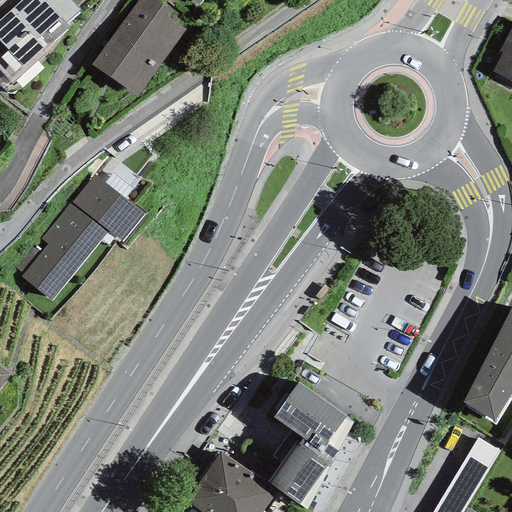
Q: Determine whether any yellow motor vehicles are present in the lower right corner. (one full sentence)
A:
Yes, looking in the lower right corner, one can make out a yellow motor vehicle.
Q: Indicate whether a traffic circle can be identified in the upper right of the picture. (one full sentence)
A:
Yes, the scene does show a traffic circle in the upper right of the picture.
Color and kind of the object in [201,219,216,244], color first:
black car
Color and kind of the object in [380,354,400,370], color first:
white car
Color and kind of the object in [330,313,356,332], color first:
white vehicle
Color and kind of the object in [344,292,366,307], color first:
white car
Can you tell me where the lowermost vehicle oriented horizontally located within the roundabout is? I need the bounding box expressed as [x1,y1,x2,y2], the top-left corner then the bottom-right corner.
[393,155,417,168]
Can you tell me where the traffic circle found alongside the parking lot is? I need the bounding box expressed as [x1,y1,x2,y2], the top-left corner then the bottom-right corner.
[321,32,469,180]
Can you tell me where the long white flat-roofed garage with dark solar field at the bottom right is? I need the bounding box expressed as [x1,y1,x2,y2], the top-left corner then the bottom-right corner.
[432,437,501,512]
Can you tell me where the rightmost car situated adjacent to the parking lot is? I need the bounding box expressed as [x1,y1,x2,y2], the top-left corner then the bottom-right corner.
[461,269,474,290]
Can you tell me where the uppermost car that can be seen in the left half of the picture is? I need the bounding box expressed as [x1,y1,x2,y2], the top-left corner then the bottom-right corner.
[115,135,136,152]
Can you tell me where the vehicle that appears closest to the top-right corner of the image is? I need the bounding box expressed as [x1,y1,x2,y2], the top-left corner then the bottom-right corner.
[402,54,423,70]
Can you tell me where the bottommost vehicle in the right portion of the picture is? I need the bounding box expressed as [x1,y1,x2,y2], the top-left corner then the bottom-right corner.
[446,426,463,452]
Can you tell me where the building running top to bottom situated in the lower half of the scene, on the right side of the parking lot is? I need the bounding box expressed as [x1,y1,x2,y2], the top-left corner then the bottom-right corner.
[464,314,512,426]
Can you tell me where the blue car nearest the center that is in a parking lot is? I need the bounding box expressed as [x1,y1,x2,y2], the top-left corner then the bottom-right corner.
[350,279,373,296]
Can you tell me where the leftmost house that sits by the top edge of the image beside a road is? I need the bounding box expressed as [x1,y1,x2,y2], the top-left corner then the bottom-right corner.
[0,0,82,84]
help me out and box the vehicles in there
[338,302,359,318]
[390,316,417,335]
[115,135,136,152]
[357,268,381,285]
[203,413,220,434]
[344,292,366,307]
[461,269,474,290]
[380,354,400,370]
[201,219,216,244]
[350,279,373,296]
[421,354,436,375]
[362,258,385,274]
[300,368,322,386]
[384,342,406,356]
[390,330,412,346]
[446,426,463,452]
[393,155,417,168]
[402,54,423,70]
[408,294,430,312]
[222,385,241,408]
[330,313,356,332]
